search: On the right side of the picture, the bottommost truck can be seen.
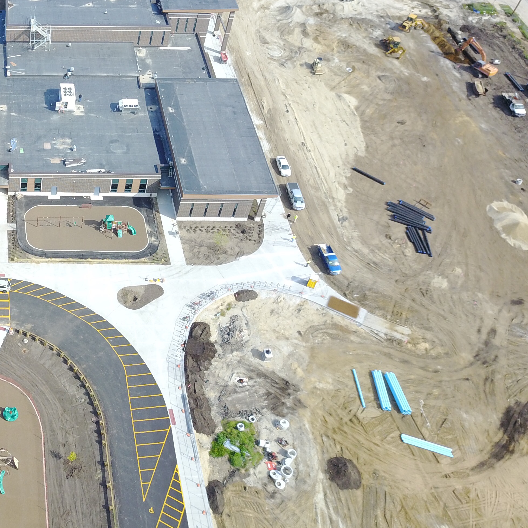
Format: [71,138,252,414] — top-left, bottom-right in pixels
[317,242,342,275]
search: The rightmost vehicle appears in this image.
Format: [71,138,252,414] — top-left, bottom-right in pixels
[502,92,528,120]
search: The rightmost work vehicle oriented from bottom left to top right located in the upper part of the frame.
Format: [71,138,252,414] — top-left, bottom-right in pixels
[398,11,424,34]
